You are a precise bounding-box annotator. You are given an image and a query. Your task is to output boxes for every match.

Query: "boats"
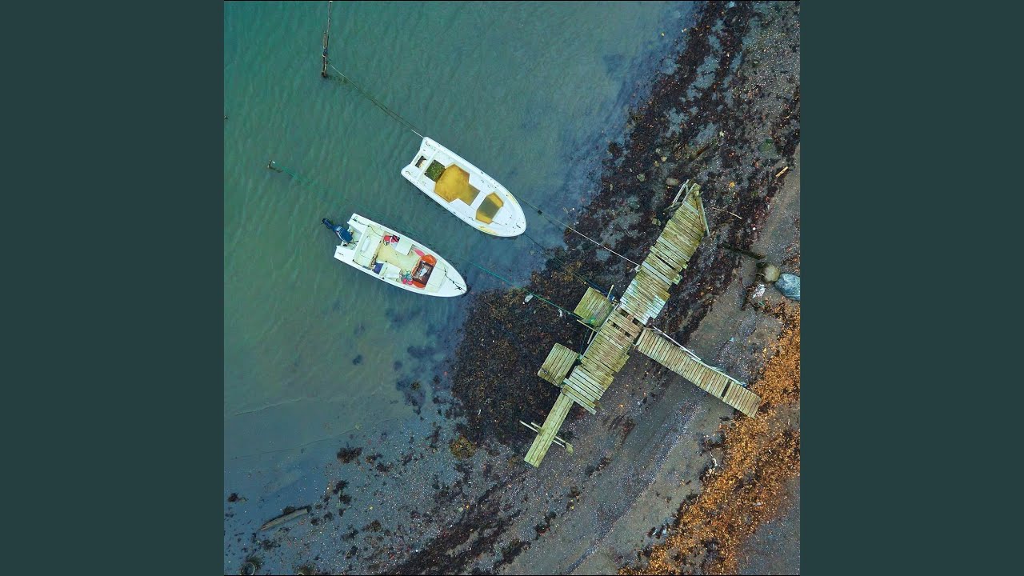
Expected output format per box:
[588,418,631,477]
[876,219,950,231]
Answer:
[404,139,528,234]
[323,214,467,296]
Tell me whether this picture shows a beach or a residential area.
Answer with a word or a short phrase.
beach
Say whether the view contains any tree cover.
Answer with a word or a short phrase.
No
